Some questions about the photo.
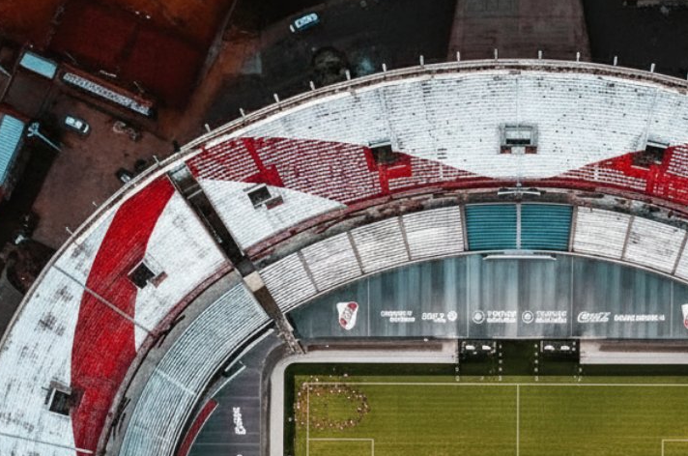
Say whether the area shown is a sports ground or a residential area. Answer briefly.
sports ground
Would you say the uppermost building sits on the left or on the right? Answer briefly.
left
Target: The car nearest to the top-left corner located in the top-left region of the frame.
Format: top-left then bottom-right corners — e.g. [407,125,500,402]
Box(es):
[65,114,89,132]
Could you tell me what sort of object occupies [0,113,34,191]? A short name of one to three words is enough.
shed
